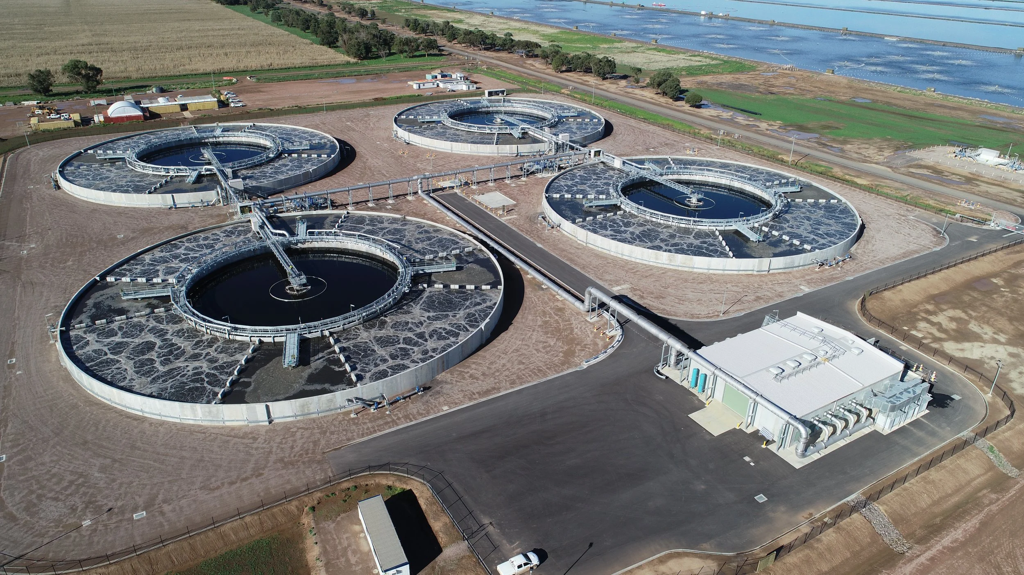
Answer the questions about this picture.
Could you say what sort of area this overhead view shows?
industrial area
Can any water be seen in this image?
Yes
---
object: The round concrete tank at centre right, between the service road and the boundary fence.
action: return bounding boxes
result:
[539,156,861,274]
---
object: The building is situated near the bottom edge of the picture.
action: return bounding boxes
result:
[357,494,410,575]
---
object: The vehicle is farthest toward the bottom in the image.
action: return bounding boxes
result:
[498,551,544,575]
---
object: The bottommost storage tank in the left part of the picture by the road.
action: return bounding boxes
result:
[58,212,504,425]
